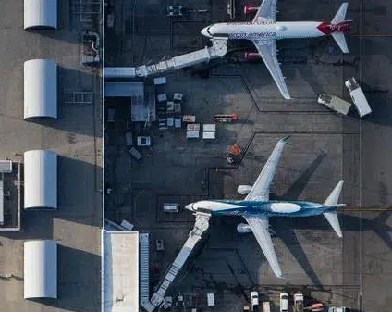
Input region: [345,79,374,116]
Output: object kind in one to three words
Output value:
truck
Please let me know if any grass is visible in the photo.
No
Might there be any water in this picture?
No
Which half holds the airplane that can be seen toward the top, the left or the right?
right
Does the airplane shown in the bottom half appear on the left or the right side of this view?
right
